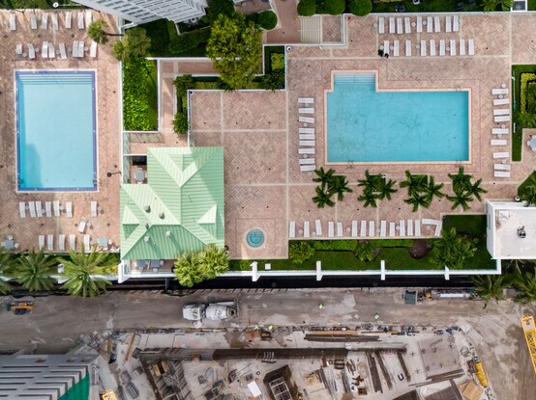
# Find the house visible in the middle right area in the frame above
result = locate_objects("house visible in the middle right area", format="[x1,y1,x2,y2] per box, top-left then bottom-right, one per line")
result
[486,201,536,260]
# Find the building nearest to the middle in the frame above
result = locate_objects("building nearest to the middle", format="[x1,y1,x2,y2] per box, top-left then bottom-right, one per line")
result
[112,146,224,263]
